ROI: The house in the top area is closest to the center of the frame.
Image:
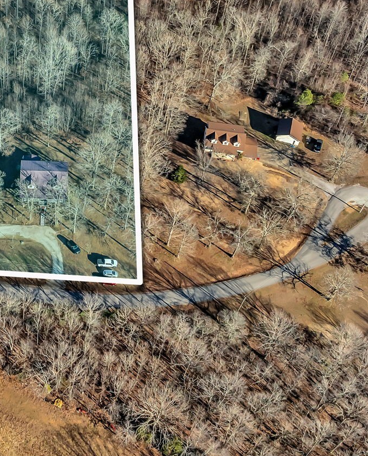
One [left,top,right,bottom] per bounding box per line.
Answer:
[205,123,258,164]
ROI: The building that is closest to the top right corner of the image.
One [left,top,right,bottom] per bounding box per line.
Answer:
[275,118,305,147]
